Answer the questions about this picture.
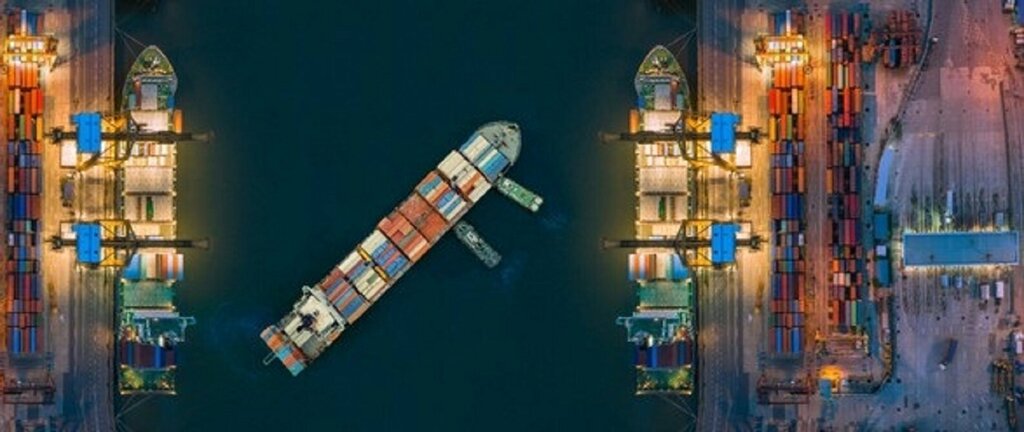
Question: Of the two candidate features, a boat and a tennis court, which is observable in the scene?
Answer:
boat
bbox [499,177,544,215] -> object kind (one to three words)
boat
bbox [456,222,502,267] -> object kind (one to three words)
boat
